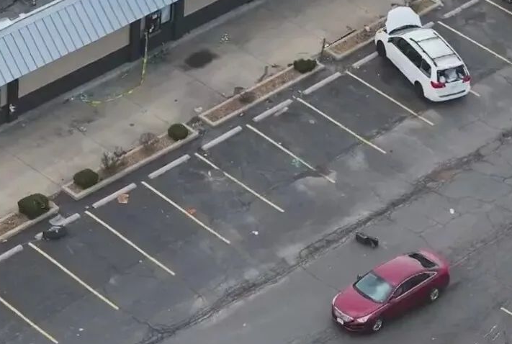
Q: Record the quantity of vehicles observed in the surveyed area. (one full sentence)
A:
Altogether the scene contains 2 vehicles.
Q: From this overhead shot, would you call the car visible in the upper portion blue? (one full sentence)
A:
No, the color of the car visible in the upper portion is white.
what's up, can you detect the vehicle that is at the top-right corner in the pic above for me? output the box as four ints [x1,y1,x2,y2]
[376,2,478,98]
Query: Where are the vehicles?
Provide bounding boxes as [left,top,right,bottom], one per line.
[332,245,453,331]
[376,2,478,98]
